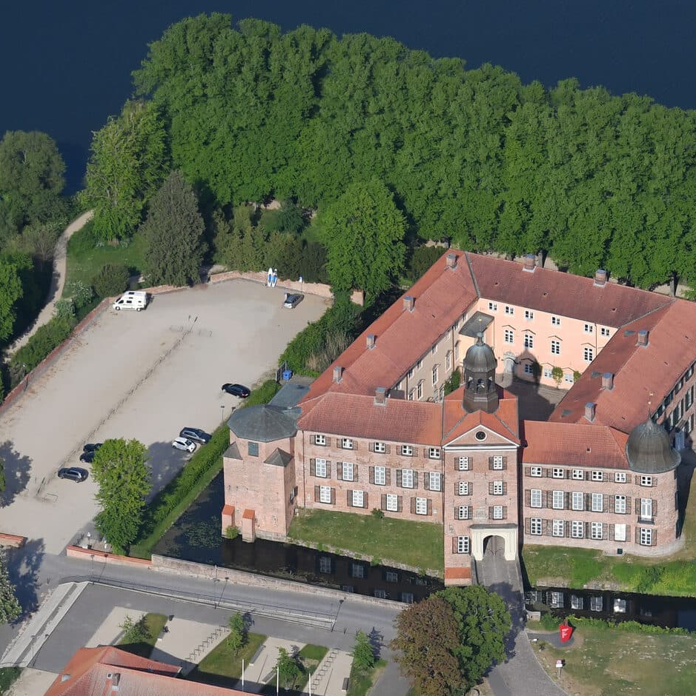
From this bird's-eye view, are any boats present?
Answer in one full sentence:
No, no boat is visible in the scene.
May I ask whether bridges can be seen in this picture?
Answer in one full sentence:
Yes, a bridge can be made out from above.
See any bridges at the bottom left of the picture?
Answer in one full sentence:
No, no bridge can be made out at the bottom left of the picture.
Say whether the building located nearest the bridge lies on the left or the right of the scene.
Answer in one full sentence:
The building located nearest the bridge appears in the right half of the scene.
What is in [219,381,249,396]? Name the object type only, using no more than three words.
car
